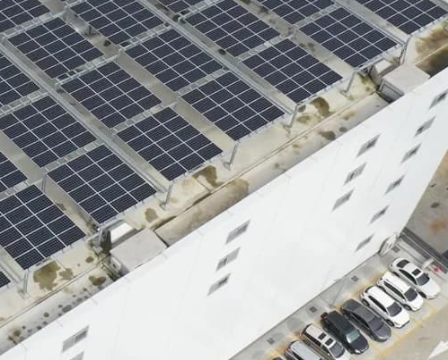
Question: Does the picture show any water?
No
